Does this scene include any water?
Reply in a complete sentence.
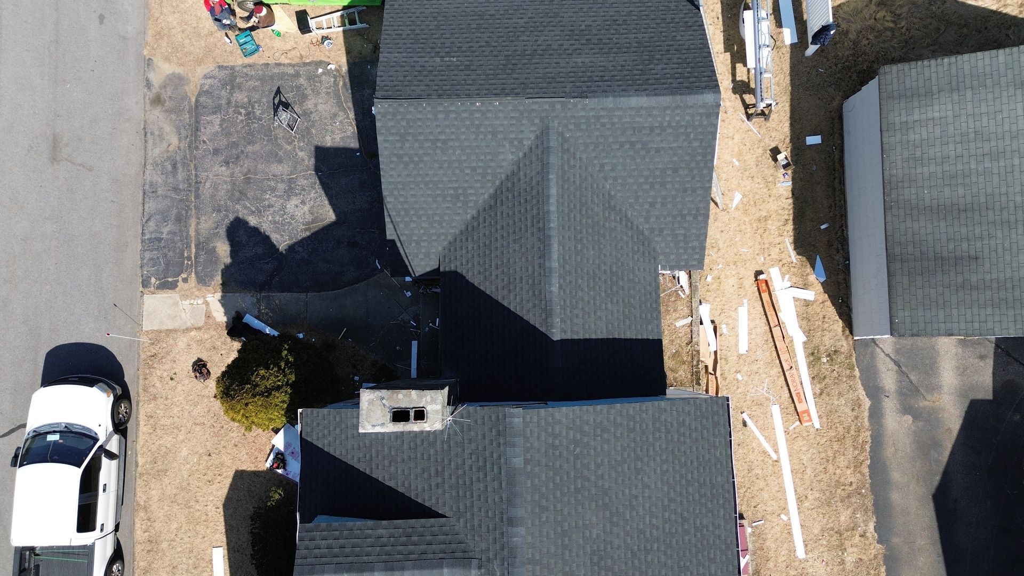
No, no water is visible.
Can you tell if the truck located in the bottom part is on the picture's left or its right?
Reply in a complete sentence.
The truck located in the bottom part appears in the left half of the scene.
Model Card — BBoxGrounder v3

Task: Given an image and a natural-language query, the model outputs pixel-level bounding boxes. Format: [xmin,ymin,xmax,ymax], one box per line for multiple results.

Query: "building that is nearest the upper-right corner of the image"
[841,39,1024,343]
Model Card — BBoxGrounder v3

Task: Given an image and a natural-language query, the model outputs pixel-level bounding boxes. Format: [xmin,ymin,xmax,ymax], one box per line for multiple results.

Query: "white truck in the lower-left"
[4,372,135,576]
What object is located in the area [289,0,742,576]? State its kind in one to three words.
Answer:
house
